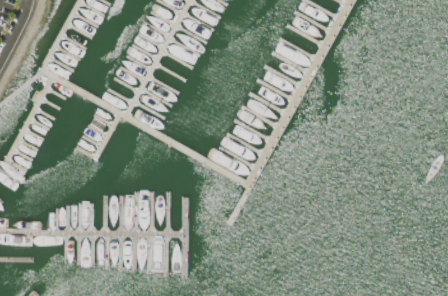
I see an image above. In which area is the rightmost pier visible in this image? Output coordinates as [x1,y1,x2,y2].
[226,0,356,224]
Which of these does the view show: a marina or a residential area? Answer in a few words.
marina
